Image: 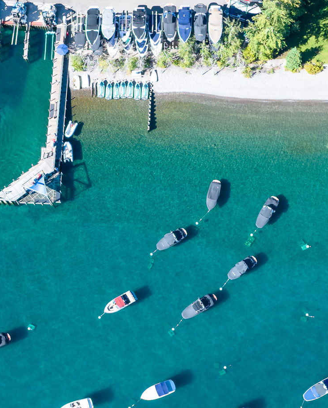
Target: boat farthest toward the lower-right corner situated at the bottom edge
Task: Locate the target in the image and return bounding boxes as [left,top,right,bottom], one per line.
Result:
[303,379,328,401]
